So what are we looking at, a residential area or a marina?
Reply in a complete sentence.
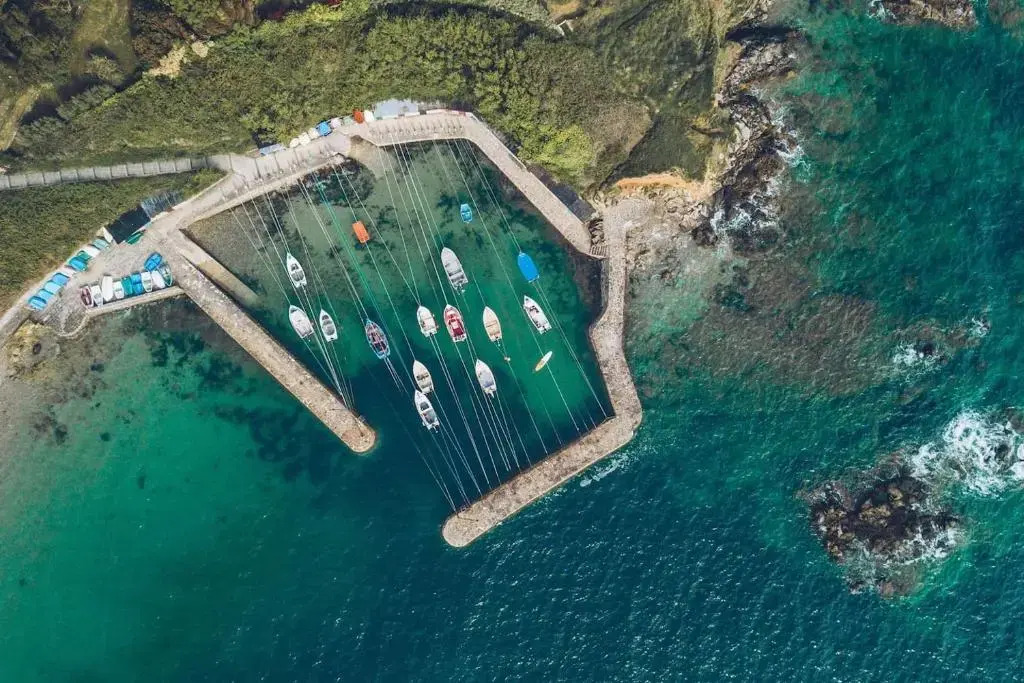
The picture captures a marina.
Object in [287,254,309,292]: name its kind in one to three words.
boat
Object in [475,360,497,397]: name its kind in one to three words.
boat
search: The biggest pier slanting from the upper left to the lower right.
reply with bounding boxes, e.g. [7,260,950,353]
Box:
[185,256,380,453]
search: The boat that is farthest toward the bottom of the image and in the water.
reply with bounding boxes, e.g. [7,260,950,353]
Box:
[416,390,440,432]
